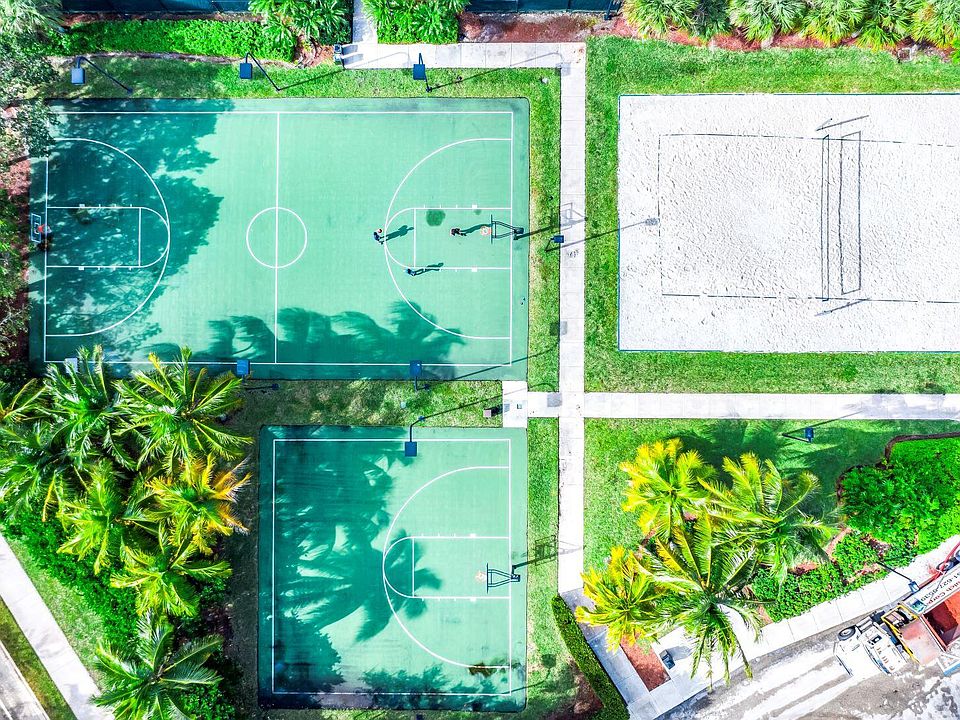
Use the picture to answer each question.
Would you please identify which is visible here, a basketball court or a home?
basketball court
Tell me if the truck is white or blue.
white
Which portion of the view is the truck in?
bottom right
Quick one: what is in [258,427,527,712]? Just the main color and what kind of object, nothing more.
green basketball court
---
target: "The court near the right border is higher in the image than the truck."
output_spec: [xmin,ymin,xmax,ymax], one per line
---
[618,91,960,353]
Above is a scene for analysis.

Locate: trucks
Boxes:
[831,556,960,688]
